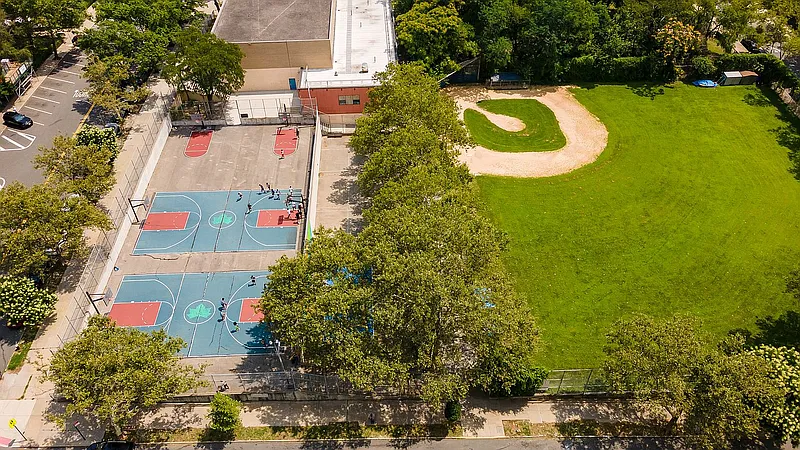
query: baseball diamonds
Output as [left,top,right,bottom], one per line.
[433,80,800,390]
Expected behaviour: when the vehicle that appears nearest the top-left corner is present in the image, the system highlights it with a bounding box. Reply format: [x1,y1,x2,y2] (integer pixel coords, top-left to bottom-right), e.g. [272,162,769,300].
[2,113,29,129]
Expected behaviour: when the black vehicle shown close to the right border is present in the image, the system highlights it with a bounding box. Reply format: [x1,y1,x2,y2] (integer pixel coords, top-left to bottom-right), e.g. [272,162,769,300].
[740,40,760,52]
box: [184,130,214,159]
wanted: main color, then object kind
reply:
red basketball court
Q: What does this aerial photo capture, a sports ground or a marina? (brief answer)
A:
sports ground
